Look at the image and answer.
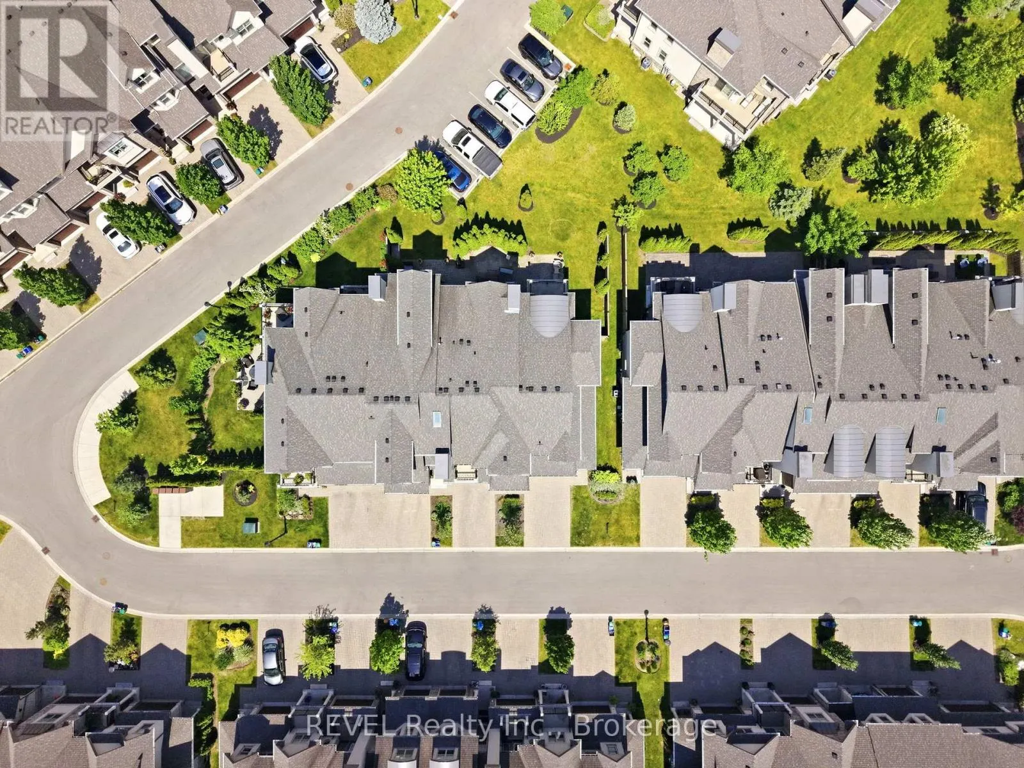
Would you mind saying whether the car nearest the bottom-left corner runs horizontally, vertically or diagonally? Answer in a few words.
vertically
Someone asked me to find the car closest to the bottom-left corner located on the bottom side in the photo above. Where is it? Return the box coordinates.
[260,633,286,683]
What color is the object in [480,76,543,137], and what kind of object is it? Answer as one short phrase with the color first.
white truck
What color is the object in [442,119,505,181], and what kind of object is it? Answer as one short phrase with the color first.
white truck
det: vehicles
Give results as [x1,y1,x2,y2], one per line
[294,35,340,88]
[199,138,246,191]
[498,56,547,106]
[480,76,543,137]
[146,173,195,227]
[427,147,477,196]
[260,633,286,683]
[404,625,429,679]
[515,31,566,82]
[97,216,143,263]
[464,101,515,151]
[442,119,505,181]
